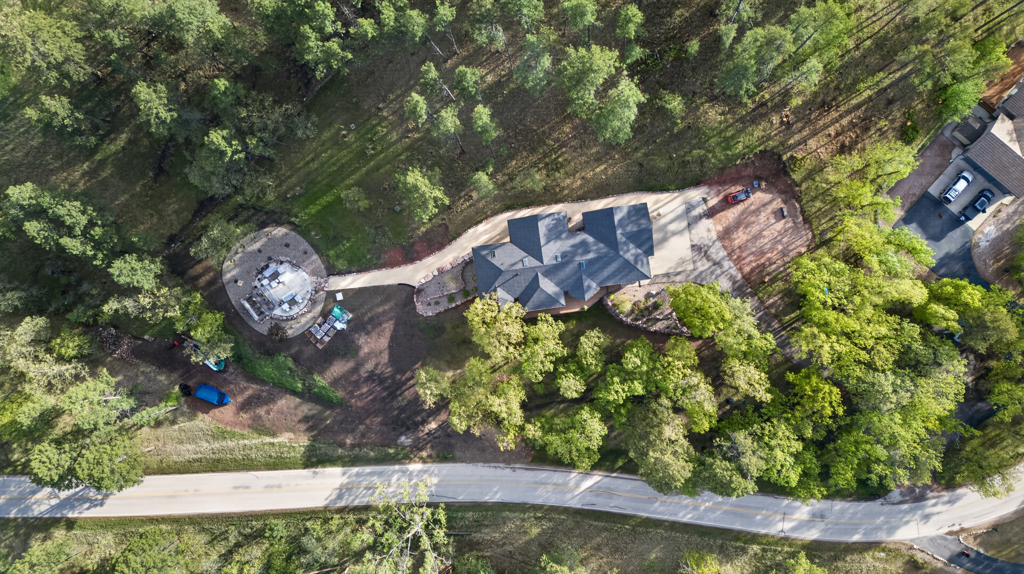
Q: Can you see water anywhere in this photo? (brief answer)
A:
No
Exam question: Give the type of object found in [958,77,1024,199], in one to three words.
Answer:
house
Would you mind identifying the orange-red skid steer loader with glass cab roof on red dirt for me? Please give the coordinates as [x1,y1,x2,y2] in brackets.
[724,187,753,207]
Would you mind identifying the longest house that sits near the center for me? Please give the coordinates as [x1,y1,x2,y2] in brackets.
[471,202,654,318]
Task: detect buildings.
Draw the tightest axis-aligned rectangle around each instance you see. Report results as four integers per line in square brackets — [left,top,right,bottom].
[958,77,1024,199]
[471,202,654,318]
[949,116,986,146]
